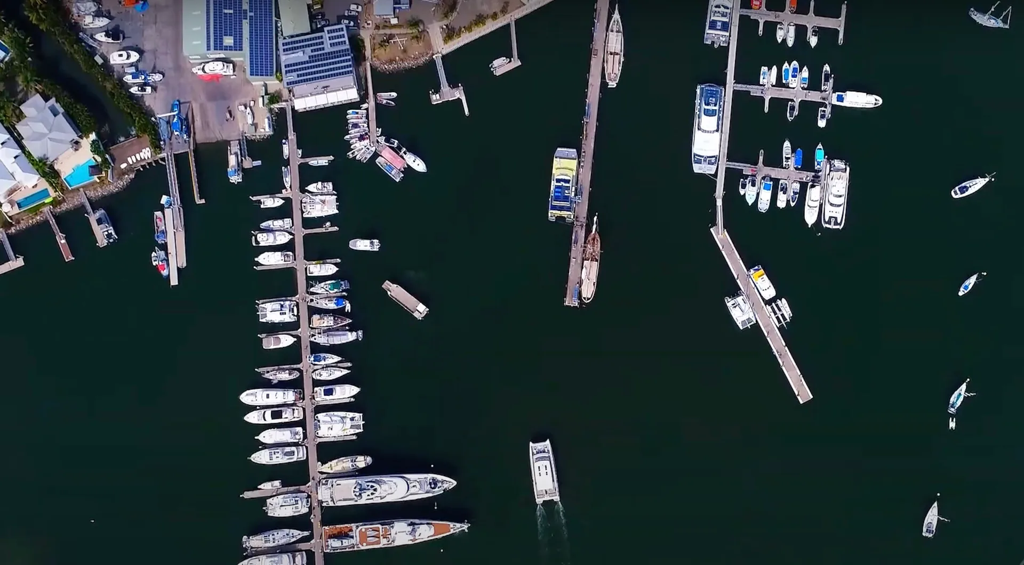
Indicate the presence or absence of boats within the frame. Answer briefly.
Yes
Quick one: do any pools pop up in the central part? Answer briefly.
No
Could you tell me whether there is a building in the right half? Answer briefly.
No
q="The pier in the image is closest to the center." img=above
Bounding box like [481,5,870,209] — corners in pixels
[565,224,587,306]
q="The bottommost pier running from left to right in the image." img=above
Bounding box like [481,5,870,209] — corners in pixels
[249,540,315,555]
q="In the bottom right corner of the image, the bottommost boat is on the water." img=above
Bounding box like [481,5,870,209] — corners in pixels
[923,501,953,536]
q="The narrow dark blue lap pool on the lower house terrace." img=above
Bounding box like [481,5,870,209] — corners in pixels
[3,180,53,215]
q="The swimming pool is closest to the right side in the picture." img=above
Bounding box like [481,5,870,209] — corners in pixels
[52,137,97,188]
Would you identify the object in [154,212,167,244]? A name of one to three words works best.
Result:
boat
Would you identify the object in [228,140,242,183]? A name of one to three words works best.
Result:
vessel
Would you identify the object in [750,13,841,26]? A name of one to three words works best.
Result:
pier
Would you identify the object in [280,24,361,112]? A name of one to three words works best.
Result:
building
